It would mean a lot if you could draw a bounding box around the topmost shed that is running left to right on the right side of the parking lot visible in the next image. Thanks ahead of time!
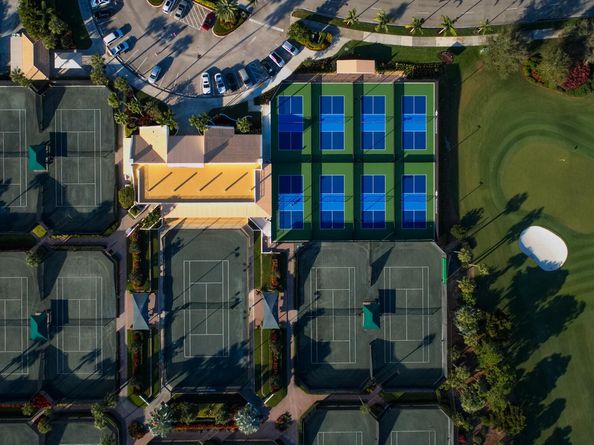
[336,58,375,74]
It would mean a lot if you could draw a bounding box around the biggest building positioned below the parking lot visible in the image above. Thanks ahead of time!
[124,125,270,219]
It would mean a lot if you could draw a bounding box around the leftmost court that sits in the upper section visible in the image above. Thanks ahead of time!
[0,87,40,233]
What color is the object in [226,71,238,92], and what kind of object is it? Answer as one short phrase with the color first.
black vehicle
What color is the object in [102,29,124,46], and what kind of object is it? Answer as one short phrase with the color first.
white car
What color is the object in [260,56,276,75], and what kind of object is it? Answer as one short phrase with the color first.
black car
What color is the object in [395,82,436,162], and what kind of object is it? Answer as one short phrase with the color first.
blue sports court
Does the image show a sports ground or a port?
sports ground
